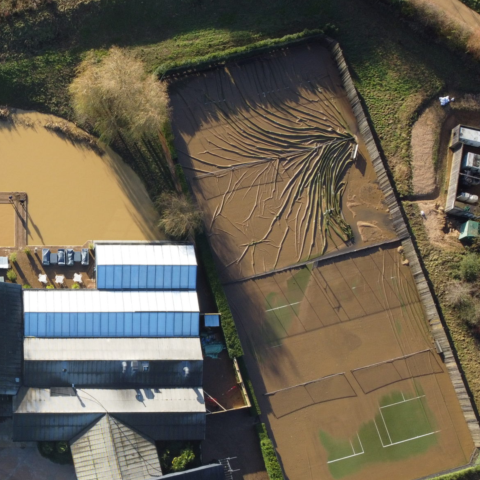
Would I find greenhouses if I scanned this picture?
Yes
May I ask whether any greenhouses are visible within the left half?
Yes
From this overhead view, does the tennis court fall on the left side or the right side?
right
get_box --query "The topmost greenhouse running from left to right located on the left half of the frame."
[93,242,199,290]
